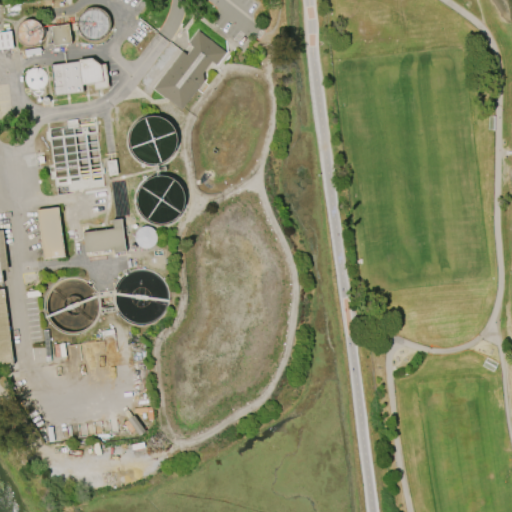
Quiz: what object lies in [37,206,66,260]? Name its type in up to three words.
building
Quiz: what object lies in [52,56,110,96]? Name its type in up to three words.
building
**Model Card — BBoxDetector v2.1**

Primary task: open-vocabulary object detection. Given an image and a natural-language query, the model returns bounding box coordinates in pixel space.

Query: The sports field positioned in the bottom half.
[400,371,512,512]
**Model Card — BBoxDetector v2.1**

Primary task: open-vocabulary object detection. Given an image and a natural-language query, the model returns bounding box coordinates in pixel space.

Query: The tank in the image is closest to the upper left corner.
[18,18,46,46]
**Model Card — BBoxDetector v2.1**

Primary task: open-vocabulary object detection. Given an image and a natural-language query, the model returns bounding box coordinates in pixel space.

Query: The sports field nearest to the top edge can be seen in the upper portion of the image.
[337,48,492,290]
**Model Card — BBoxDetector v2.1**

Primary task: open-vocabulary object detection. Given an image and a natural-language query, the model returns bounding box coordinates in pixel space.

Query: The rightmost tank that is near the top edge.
[78,6,111,39]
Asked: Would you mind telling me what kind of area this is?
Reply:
industrial area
